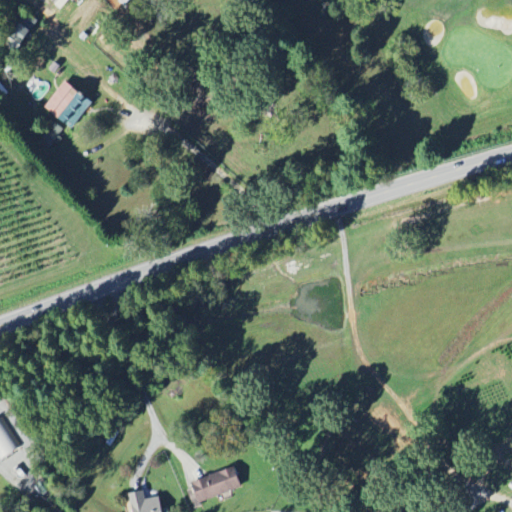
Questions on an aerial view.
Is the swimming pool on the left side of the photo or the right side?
left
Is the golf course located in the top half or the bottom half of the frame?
top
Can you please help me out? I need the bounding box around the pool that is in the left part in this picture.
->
[27,76,50,101]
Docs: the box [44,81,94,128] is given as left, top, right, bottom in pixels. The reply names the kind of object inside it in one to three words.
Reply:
house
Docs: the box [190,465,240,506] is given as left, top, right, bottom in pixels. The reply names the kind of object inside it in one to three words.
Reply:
house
